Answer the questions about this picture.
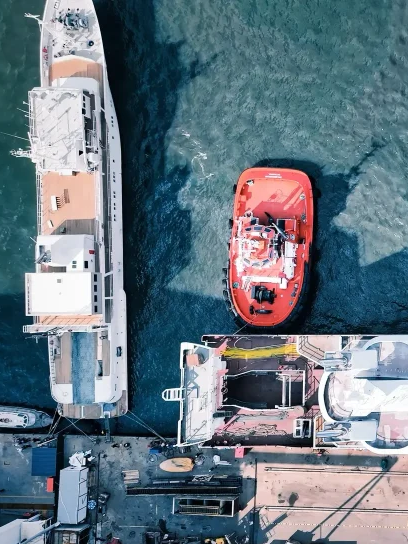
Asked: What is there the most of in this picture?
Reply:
water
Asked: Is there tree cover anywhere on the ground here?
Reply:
No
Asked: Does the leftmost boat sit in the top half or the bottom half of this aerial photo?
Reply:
bottom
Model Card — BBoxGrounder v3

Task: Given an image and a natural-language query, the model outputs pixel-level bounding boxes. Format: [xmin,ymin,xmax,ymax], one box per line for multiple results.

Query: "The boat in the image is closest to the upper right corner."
[224,166,318,332]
